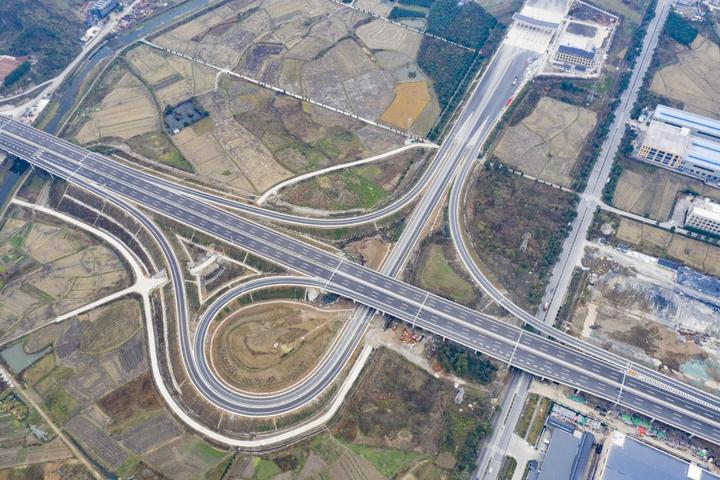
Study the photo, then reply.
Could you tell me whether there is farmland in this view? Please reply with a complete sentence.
Yes, the picture does contain farmland.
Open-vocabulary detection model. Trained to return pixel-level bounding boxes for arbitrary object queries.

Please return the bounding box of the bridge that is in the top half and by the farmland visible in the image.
[0,115,98,181]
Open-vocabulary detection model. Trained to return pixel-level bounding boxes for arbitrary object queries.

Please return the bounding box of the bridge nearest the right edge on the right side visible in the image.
[323,256,720,448]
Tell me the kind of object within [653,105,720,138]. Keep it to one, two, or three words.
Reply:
shed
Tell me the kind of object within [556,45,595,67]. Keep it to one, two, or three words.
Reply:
building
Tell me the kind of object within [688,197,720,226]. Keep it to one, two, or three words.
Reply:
building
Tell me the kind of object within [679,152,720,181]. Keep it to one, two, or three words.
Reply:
shed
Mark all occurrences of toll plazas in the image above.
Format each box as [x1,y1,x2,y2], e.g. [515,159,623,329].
[513,13,560,36]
